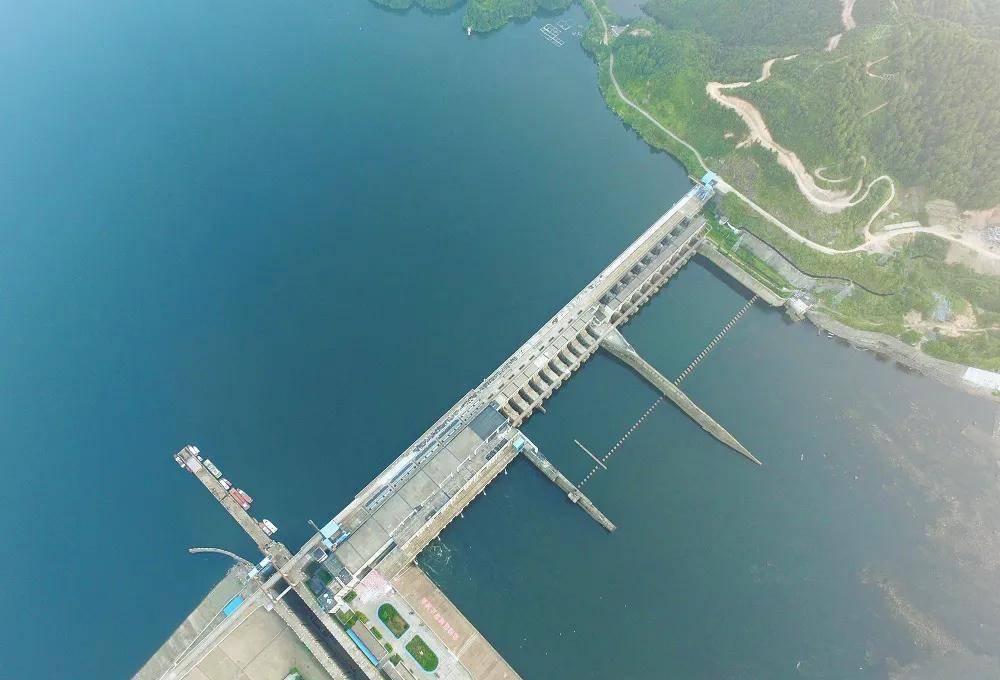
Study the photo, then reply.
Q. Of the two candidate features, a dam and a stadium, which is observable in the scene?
dam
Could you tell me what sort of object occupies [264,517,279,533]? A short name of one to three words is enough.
boat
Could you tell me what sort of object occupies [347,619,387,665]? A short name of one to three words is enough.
house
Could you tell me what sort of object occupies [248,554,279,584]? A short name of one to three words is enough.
house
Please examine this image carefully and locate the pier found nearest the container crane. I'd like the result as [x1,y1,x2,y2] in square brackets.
[177,445,271,545]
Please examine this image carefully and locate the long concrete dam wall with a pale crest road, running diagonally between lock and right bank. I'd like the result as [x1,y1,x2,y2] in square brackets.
[260,176,715,592]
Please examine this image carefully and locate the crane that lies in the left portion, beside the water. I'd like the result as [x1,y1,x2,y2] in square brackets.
[309,519,350,549]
